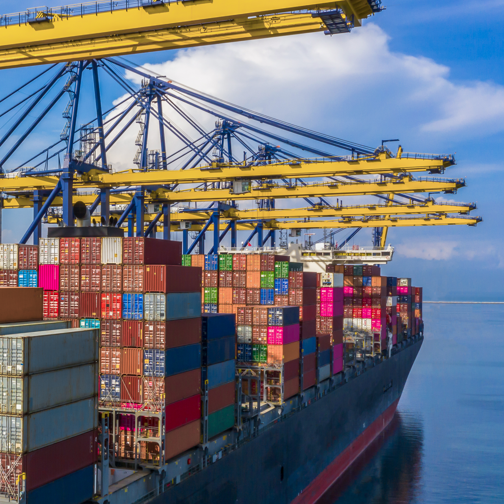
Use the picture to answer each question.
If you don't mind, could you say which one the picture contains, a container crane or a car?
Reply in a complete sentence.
The one in the frame is a container crane.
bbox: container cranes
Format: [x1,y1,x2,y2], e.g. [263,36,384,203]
[0,54,459,245]
[0,0,381,69]
[309,148,410,277]
[41,112,481,345]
